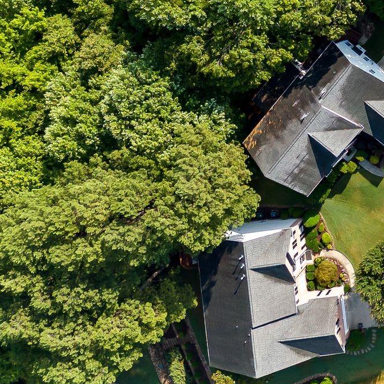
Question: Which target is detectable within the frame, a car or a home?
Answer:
home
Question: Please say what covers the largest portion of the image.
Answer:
trees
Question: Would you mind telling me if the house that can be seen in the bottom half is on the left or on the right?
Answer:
right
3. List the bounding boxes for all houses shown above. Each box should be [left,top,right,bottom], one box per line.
[247,39,384,197]
[197,217,350,378]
